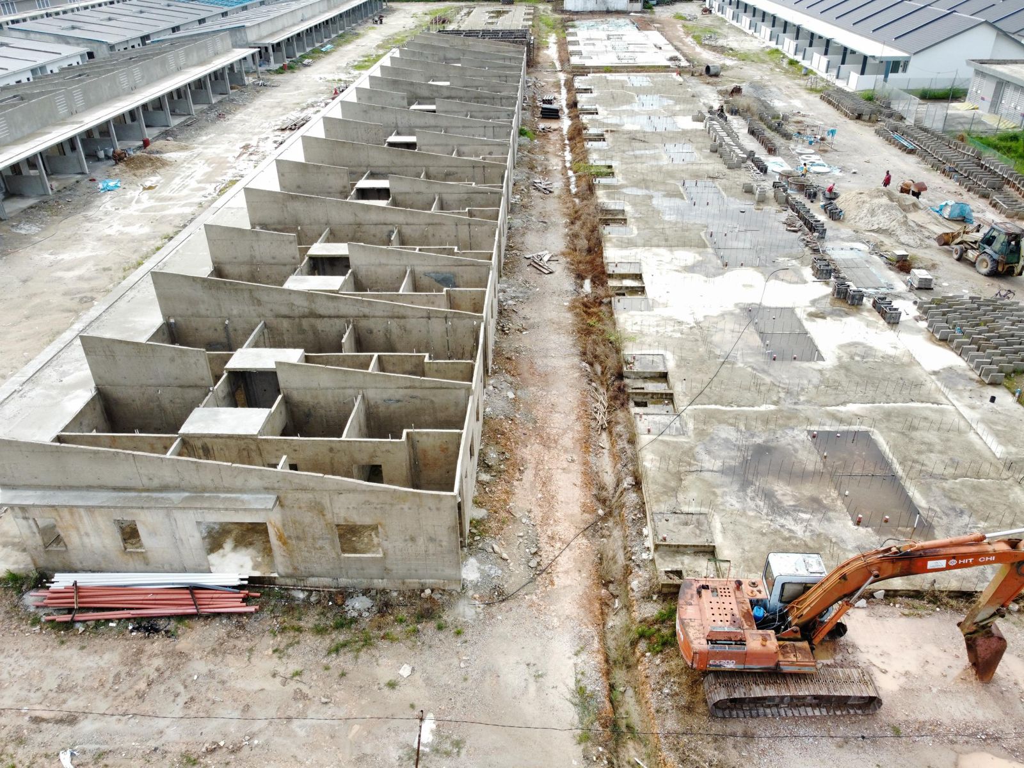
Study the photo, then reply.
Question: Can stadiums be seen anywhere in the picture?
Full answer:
No, no stadium is visible in the scene.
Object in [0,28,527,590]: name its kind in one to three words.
building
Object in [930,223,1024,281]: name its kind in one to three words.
work vehicle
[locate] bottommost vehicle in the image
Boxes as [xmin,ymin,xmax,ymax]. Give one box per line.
[671,522,1024,720]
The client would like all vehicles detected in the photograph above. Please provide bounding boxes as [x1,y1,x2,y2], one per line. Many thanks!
[930,223,1024,281]
[671,522,1024,720]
